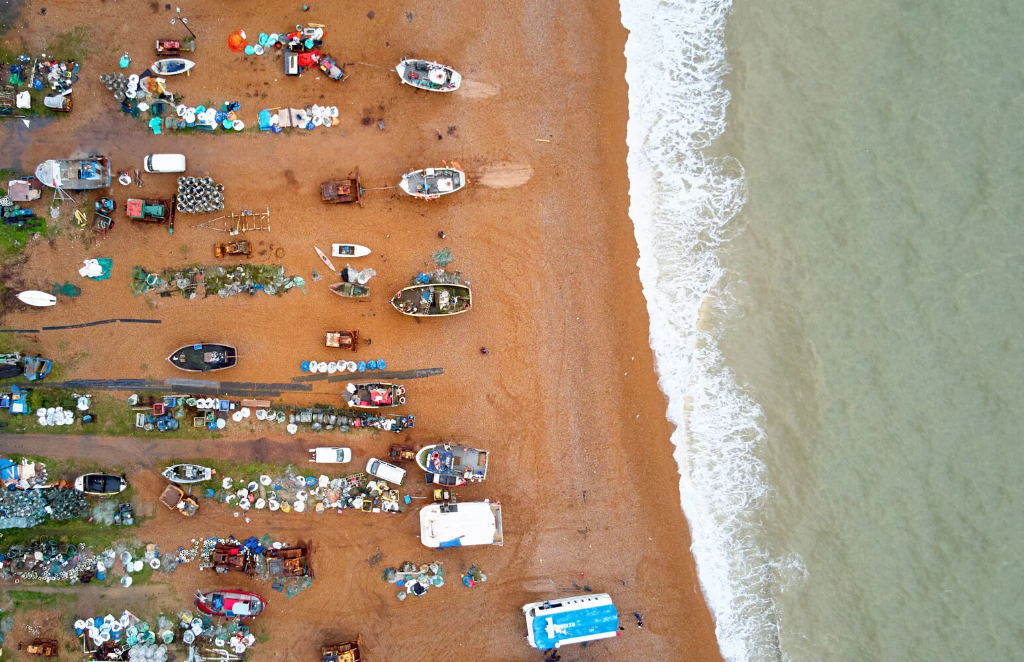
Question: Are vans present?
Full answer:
Yes, a van appears in the view.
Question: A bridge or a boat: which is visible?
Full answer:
I can see a boat in this picture.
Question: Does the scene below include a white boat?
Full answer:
Yes, there's a white boat down there.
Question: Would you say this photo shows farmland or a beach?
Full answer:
It's a beach.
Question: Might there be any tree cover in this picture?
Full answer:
No, no tree cover is visible.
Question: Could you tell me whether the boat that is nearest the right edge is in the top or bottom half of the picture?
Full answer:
The bottom half of the photo is where the boat that is nearest the right edge is.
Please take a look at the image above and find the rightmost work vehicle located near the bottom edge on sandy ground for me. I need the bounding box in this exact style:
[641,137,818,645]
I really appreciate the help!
[321,631,364,662]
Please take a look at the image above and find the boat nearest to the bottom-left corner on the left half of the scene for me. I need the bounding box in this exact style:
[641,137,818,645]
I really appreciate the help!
[74,474,129,495]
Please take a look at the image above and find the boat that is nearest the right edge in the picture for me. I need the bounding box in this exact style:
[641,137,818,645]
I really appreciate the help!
[522,591,622,650]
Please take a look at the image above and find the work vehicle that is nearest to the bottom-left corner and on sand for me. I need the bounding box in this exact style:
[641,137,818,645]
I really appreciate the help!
[22,637,60,656]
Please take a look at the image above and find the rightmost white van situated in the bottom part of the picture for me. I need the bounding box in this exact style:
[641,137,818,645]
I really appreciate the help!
[367,456,409,486]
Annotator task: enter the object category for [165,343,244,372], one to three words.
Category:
boat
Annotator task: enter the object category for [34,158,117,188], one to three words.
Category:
boat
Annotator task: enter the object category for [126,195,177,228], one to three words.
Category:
work vehicle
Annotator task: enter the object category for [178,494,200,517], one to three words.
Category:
truck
